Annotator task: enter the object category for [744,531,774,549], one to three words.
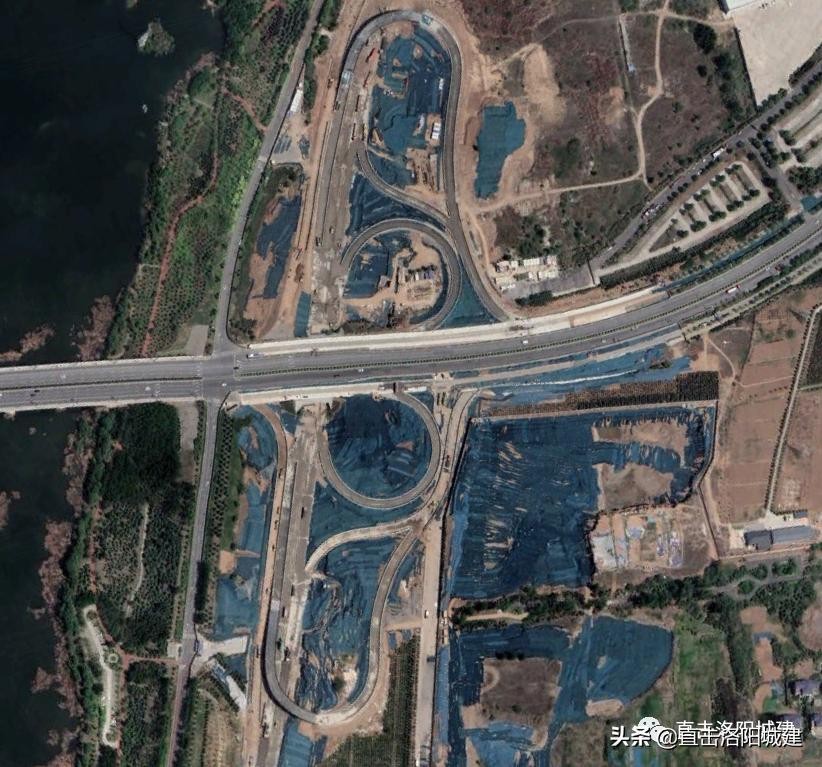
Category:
house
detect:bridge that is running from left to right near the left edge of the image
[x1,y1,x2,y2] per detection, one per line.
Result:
[0,361,118,411]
